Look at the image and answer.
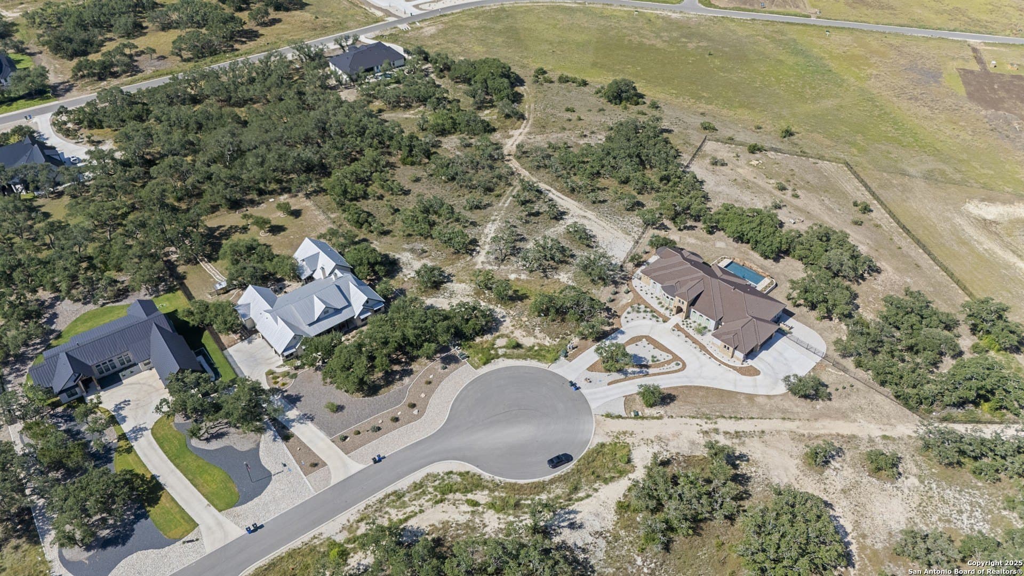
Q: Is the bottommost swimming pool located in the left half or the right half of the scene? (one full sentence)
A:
The bottommost swimming pool is on the right side of the image.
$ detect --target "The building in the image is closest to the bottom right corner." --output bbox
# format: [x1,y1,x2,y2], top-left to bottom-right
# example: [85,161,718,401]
[640,246,789,366]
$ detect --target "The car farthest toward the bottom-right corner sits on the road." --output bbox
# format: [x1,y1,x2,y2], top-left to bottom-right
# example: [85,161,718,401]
[547,450,574,468]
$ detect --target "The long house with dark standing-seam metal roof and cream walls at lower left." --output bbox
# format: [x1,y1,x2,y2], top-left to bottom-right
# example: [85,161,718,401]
[27,300,203,403]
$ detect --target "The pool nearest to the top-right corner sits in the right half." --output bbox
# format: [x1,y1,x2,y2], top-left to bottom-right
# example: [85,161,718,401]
[707,254,778,293]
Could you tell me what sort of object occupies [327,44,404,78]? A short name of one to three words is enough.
house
